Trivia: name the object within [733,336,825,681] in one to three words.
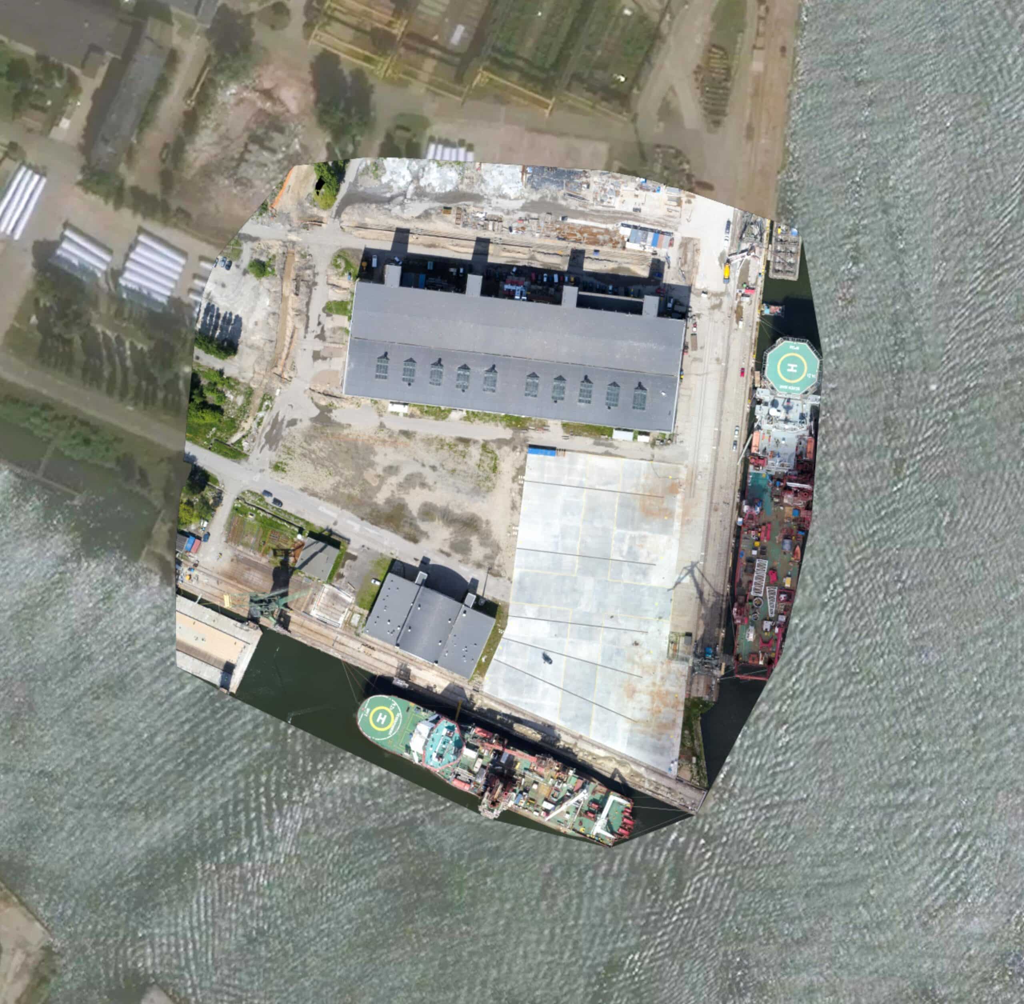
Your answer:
ship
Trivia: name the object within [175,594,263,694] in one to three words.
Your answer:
pier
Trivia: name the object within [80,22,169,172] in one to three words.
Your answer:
shed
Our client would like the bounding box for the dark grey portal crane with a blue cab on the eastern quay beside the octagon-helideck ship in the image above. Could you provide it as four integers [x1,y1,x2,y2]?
[659,630,720,678]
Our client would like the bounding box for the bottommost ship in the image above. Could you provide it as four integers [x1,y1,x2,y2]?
[356,695,635,847]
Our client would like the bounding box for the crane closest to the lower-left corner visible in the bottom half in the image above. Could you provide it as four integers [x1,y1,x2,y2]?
[230,585,334,624]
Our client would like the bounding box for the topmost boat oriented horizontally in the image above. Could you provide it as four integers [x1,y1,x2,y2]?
[761,304,785,317]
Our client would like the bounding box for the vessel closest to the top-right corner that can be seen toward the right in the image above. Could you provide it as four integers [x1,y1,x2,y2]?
[768,220,803,282]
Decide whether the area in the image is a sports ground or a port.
port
